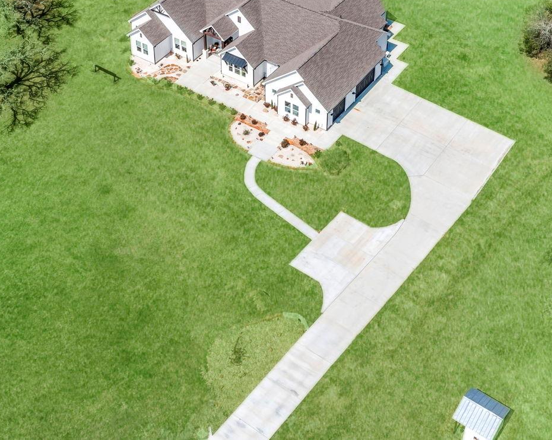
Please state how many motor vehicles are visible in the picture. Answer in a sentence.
The picture shows no motor vehicles.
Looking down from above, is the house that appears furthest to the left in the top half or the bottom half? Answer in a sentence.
The house that appears furthest to the left sits in the top half of the picture.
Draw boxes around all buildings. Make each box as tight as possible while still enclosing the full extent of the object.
[453,390,508,440]
[126,0,394,132]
